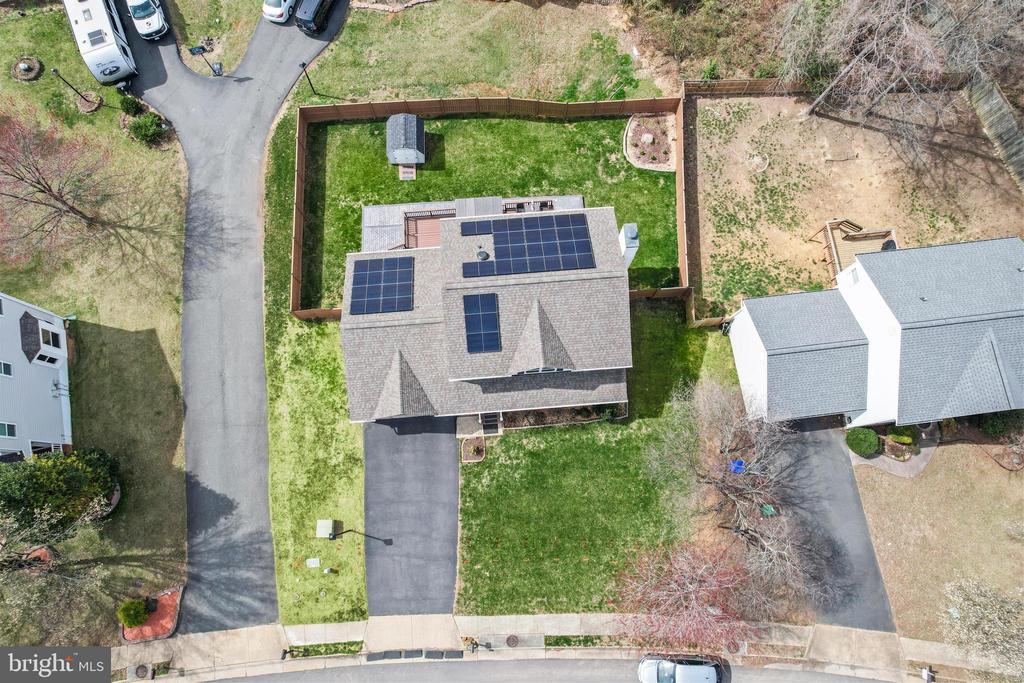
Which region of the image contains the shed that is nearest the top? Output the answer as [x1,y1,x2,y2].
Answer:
[386,112,426,181]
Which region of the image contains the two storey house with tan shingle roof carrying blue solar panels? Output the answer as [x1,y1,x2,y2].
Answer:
[340,205,637,425]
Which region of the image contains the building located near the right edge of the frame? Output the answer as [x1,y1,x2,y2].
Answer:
[730,235,1024,451]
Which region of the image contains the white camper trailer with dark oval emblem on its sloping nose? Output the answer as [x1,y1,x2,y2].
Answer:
[62,0,141,99]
